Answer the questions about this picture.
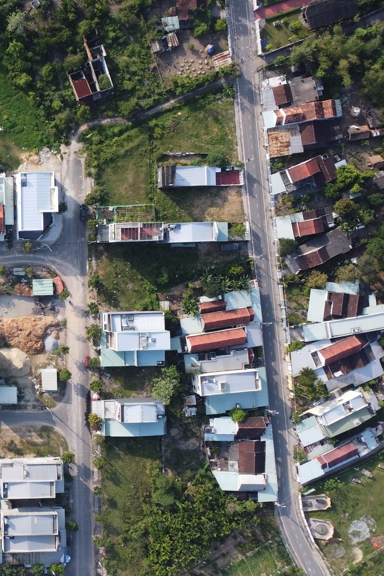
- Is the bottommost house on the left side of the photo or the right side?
left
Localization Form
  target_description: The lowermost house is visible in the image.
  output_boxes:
[0,500,66,567]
